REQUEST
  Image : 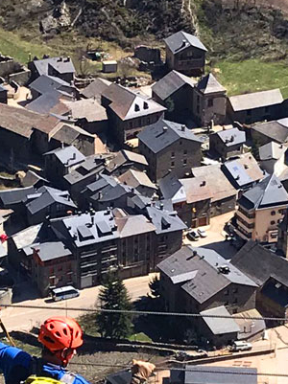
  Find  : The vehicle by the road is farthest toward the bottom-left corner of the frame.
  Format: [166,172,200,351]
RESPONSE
[51,285,78,301]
